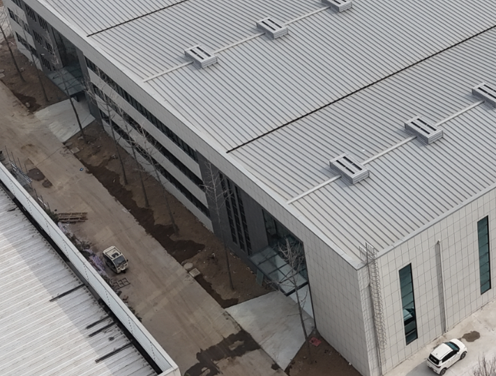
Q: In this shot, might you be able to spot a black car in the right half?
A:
No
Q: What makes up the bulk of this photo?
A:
buildings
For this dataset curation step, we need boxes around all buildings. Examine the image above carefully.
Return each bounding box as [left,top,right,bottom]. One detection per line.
[0,162,178,376]
[3,0,496,376]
